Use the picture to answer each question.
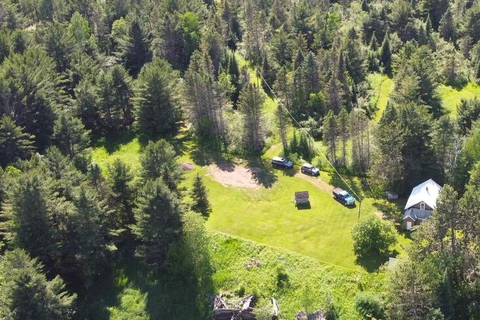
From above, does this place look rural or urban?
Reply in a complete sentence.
It looks rural.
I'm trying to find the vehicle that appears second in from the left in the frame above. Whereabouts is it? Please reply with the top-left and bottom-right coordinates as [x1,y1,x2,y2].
[299,162,321,176]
